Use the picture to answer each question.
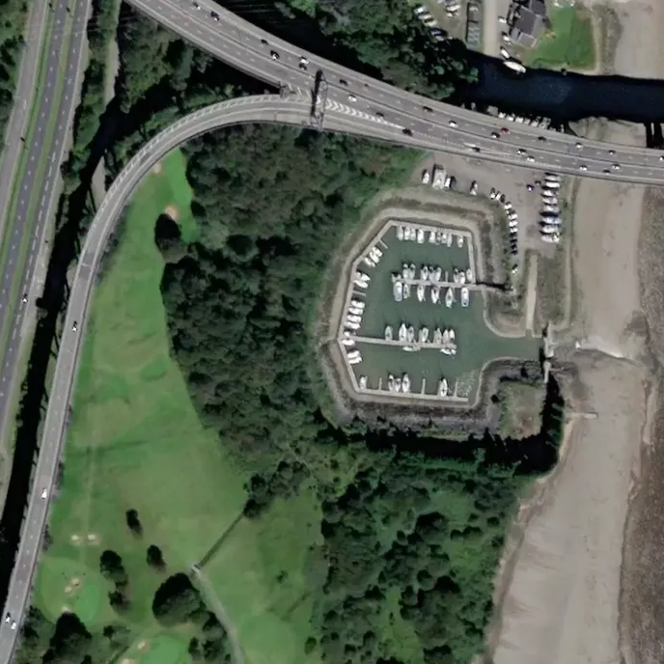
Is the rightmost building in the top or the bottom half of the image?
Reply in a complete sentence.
It is in the top half that the rightmost building appears.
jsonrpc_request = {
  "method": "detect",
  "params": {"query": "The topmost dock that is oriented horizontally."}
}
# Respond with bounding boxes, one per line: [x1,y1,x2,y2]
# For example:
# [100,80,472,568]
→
[391,222,471,247]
